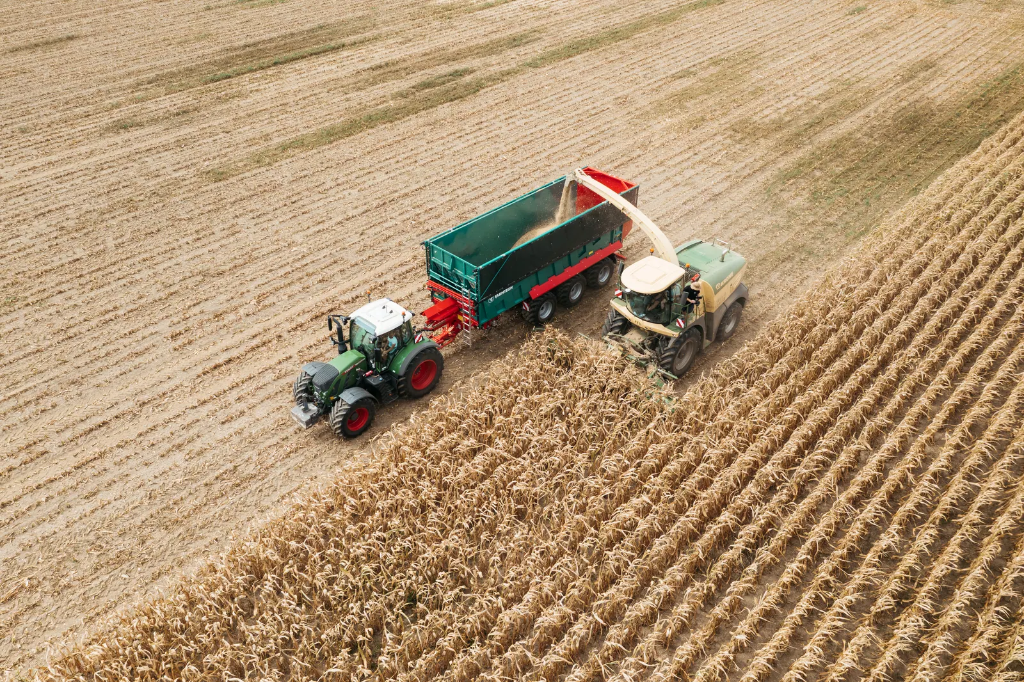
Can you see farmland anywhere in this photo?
Yes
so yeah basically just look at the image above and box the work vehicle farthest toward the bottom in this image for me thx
[291,295,447,442]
